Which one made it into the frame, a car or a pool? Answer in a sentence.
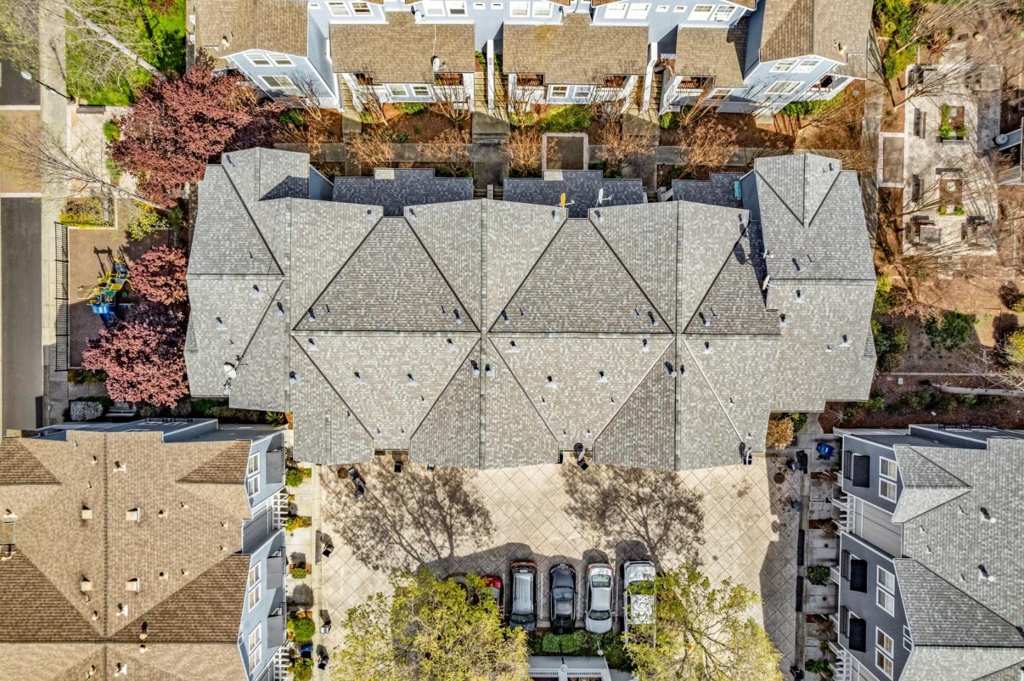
It is a car that can be seen here.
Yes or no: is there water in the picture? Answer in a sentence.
No, the picture contains no water.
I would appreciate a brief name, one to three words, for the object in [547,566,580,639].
car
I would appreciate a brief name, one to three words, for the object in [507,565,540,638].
car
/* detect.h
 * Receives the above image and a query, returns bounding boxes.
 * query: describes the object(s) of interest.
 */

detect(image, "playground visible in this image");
[86,259,143,322]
